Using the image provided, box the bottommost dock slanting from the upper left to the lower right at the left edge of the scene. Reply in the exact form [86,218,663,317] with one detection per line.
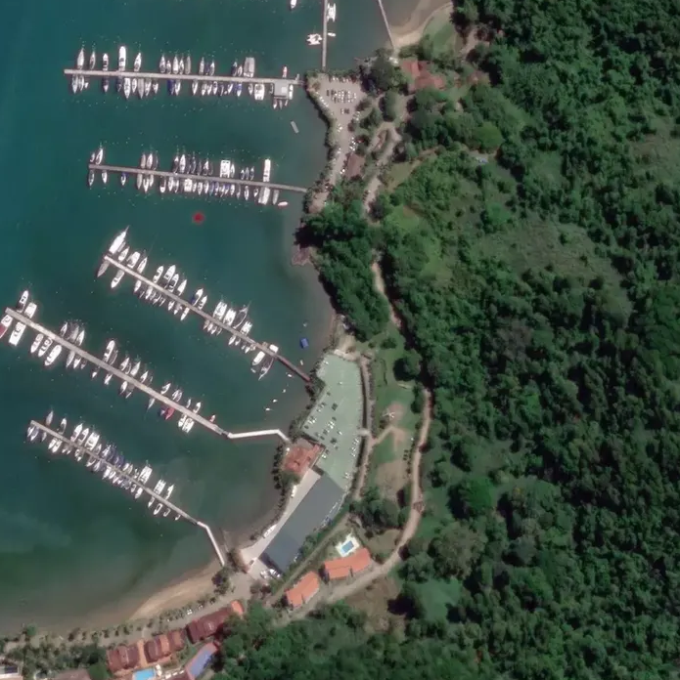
[32,421,198,524]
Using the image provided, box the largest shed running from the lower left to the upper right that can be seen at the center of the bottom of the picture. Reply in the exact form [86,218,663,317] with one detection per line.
[263,475,345,572]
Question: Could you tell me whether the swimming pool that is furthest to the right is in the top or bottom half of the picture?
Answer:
bottom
